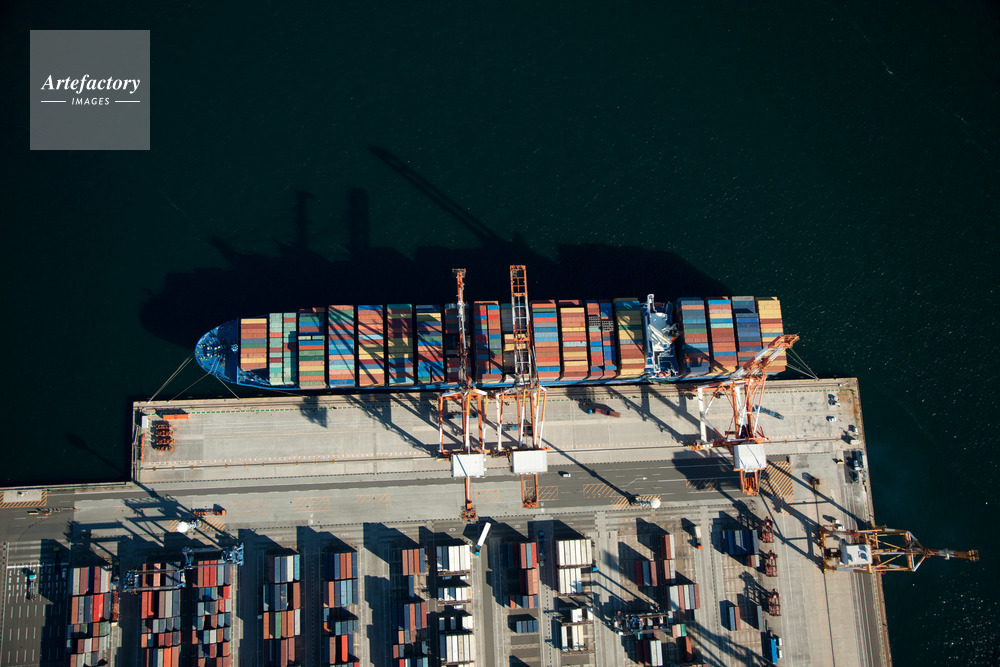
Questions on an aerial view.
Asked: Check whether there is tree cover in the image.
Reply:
No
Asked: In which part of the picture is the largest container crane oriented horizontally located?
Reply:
bottom right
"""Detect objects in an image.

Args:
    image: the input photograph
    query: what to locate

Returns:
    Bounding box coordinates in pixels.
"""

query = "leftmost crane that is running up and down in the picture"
[428,266,493,520]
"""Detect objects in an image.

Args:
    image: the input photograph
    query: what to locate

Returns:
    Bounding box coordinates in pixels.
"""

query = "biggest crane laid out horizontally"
[822,522,983,581]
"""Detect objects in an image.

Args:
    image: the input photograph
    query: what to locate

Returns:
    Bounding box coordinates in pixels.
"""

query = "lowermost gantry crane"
[600,604,671,637]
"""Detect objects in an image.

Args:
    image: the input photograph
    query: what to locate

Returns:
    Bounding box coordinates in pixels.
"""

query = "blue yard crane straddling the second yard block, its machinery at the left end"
[125,561,194,593]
